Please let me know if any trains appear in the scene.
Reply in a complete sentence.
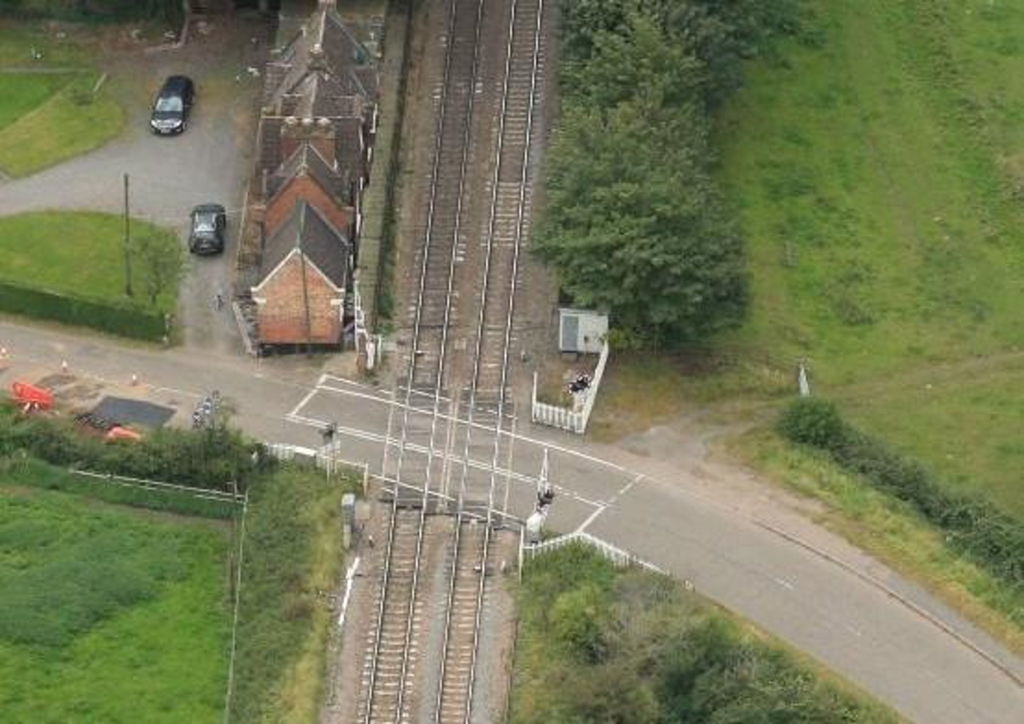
No, no train is visible in the view.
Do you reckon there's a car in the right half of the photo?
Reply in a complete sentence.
No, the scene shows no car in the right half of the photo.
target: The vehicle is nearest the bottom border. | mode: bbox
[189,202,228,250]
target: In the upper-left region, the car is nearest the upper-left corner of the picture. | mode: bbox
[153,75,197,132]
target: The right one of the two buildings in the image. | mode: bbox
[557,302,609,358]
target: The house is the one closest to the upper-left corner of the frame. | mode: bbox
[246,0,391,348]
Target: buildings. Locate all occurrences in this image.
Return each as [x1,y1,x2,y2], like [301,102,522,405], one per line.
[246,0,391,348]
[557,302,609,358]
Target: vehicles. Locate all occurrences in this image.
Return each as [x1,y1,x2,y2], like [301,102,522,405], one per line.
[153,75,197,132]
[189,202,228,250]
